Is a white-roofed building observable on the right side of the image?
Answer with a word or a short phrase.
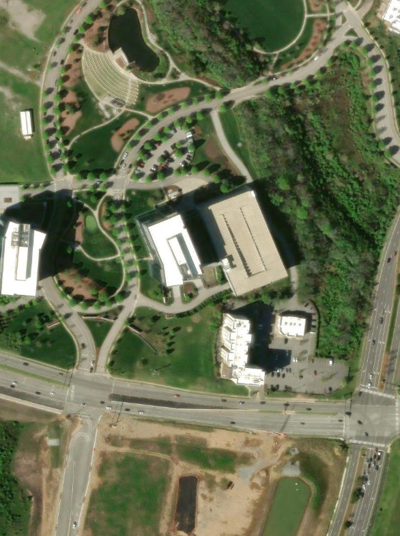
Yes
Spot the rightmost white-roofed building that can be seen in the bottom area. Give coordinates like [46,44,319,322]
[277,316,306,335]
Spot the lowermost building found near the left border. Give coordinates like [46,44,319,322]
[0,212,46,296]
